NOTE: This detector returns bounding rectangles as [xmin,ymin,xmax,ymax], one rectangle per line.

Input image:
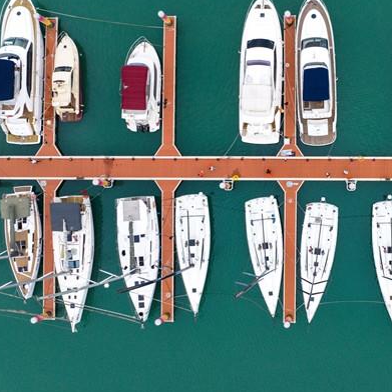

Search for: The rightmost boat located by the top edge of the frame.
[296,0,337,146]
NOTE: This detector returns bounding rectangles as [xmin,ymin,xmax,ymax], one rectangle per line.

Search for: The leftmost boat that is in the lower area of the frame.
[0,186,43,304]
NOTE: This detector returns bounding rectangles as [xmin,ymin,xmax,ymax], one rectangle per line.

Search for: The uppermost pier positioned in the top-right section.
[276,15,303,156]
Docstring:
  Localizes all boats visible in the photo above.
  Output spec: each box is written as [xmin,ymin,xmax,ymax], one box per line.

[298,197,337,327]
[122,36,164,133]
[296,0,337,146]
[0,0,45,144]
[240,0,283,144]
[0,191,96,330]
[49,30,83,122]
[116,192,211,319]
[234,195,283,322]
[372,196,392,325]
[34,195,159,328]
[0,186,43,304]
